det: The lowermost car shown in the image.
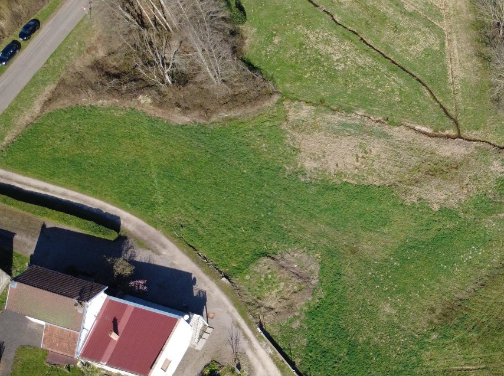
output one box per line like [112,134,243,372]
[0,39,21,63]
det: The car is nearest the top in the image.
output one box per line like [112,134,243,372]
[13,17,41,39]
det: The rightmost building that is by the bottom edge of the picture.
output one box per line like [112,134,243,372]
[77,294,192,376]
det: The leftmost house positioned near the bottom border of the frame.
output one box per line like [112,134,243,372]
[3,265,111,367]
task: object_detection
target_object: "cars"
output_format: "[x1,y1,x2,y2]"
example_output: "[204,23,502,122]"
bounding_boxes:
[0,39,21,63]
[13,17,41,39]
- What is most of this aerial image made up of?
grass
